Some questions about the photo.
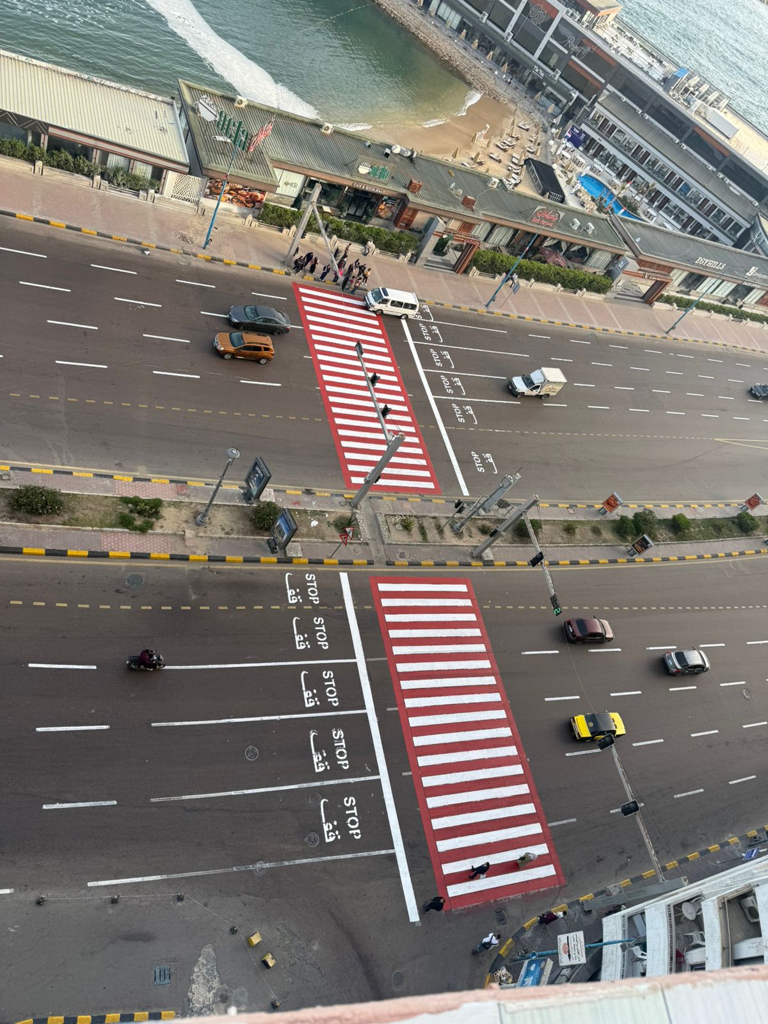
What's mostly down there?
paved ground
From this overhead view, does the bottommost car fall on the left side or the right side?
right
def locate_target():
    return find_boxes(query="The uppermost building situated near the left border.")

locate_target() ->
[0,49,191,199]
